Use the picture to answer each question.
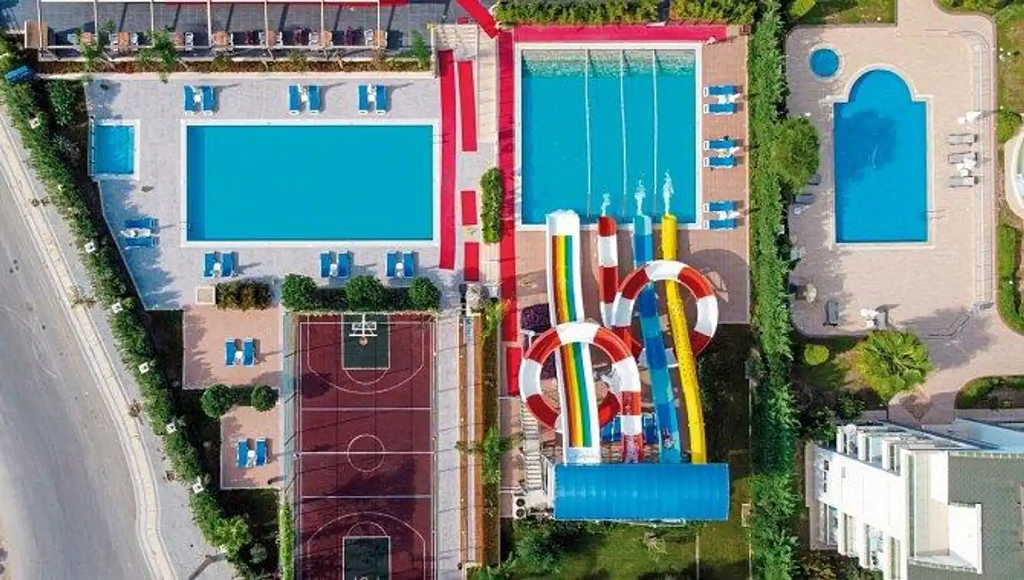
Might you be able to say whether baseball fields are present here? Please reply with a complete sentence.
No, I find no baseball field anywhere in the image.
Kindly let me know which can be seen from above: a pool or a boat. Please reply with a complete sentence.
Looking from above, you can make out a pool.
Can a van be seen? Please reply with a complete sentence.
No, no van is visible in the scene.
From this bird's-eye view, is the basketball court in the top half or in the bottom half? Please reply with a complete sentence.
The basketball court sits in the bottom half of the picture.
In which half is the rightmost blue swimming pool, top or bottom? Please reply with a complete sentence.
Seen from above, the rightmost blue swimming pool lies in the top half of the view.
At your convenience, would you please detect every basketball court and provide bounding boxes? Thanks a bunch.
[294,314,436,580]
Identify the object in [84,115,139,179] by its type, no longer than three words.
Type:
swimming pool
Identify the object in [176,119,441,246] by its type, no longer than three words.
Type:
swimming pool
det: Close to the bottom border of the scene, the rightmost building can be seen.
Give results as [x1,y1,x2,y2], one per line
[815,417,1024,580]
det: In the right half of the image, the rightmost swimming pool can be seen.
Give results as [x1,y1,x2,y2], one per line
[1003,124,1024,219]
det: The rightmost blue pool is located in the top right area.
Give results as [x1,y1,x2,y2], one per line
[829,63,939,249]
